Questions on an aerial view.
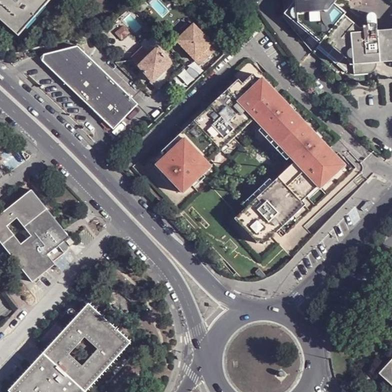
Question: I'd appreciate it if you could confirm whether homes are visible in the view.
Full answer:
Yes, a home can be made out from above.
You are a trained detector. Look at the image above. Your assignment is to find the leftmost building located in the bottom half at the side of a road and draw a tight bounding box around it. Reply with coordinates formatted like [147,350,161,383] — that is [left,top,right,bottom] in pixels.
[0,190,68,281]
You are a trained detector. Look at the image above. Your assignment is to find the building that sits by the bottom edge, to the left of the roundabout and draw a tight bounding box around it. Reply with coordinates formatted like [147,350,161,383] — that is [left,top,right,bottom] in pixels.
[9,303,130,392]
